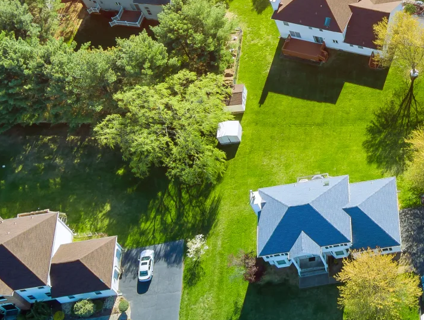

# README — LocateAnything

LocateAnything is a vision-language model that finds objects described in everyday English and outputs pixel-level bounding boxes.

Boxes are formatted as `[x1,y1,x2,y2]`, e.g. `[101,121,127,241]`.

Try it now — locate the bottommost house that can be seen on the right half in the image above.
[246,174,400,281]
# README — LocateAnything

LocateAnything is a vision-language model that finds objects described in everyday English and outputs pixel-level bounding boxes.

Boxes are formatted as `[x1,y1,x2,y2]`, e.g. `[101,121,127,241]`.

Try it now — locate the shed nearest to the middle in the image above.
[215,117,241,144]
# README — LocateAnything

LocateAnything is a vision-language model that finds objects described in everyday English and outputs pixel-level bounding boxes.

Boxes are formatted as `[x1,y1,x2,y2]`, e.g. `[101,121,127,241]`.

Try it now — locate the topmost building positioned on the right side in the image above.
[270,0,404,74]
